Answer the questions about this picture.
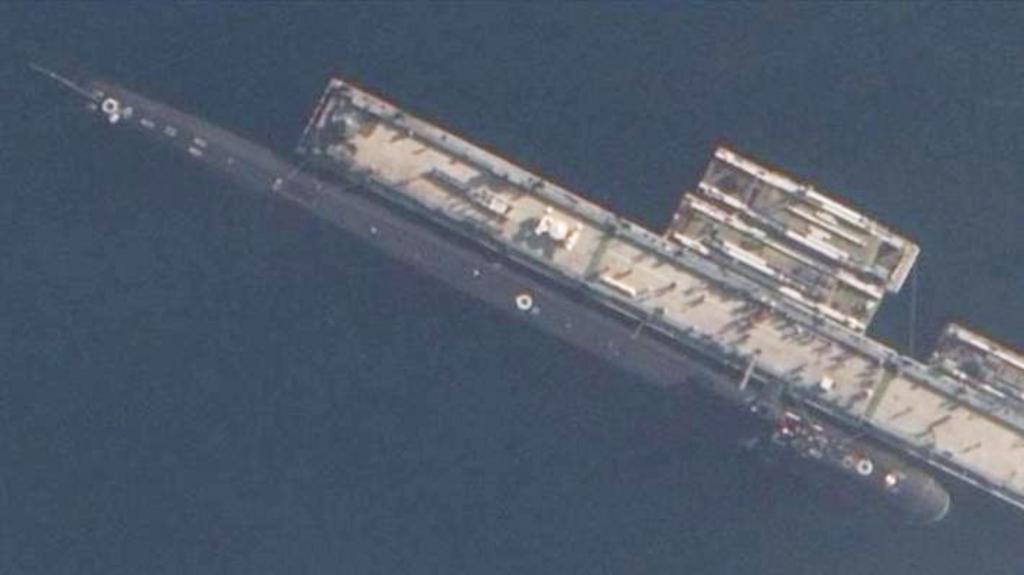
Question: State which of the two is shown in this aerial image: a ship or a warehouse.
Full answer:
I can see a ship in this picture.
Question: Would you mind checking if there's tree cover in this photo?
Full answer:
No, the scene doesn't show any tree cover.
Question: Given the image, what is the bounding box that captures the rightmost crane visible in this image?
[529,207,581,255]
